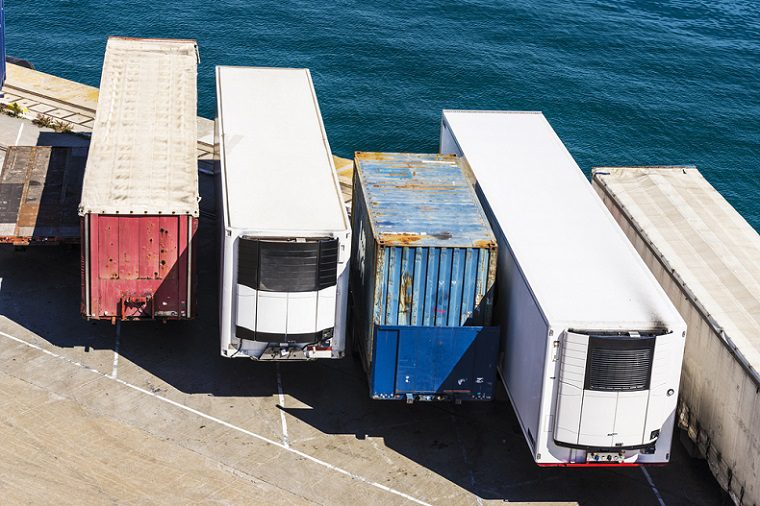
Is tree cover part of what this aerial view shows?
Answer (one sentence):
No, there's no tree cover in this view.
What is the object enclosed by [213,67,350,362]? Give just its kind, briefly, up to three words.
trailer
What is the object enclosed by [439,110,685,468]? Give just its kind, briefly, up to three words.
trailer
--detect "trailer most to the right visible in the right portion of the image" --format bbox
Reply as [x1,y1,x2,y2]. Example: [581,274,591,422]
[589,166,760,506]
